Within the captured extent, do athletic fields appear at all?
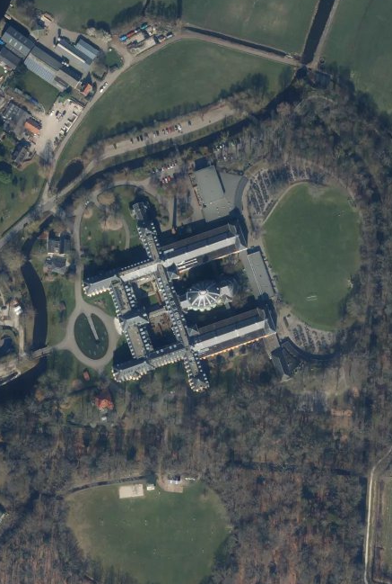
Yes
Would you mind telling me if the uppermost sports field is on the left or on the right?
right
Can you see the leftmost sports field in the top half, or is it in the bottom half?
bottom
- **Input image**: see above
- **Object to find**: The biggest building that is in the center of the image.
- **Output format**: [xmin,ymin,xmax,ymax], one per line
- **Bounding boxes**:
[83,203,283,390]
